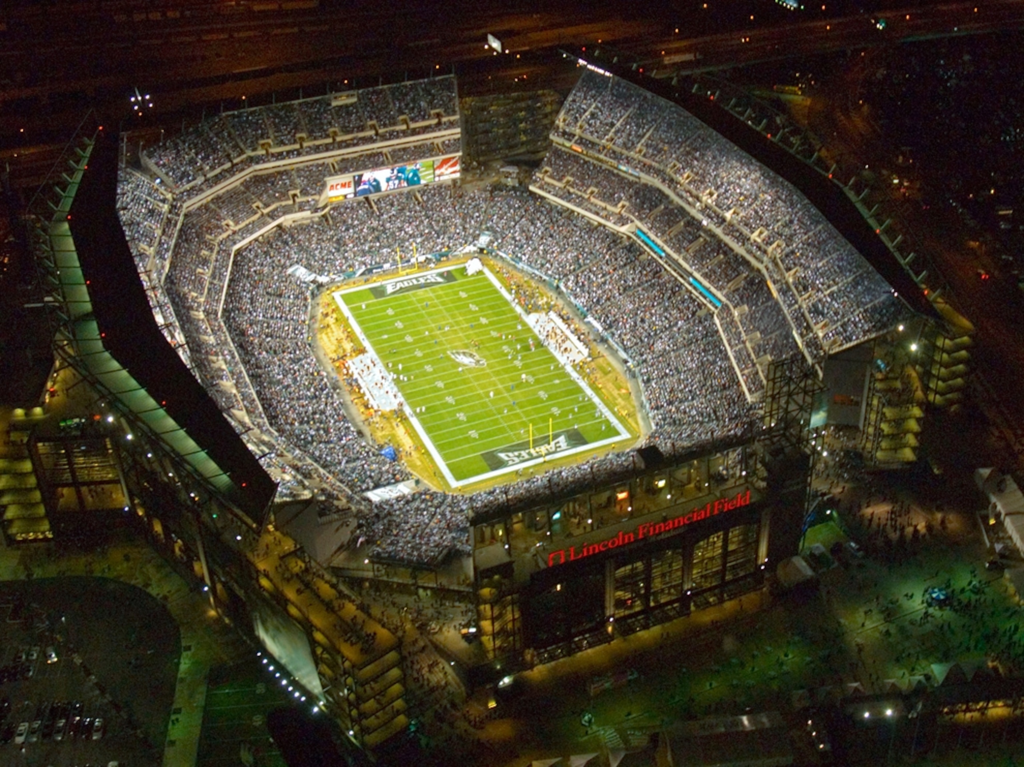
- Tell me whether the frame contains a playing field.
Yes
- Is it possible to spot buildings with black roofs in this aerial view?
Yes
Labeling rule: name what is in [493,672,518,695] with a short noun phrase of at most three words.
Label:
vehicle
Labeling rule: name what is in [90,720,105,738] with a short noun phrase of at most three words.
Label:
car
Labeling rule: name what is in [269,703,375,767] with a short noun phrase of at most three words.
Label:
building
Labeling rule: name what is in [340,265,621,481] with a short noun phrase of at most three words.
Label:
sports field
